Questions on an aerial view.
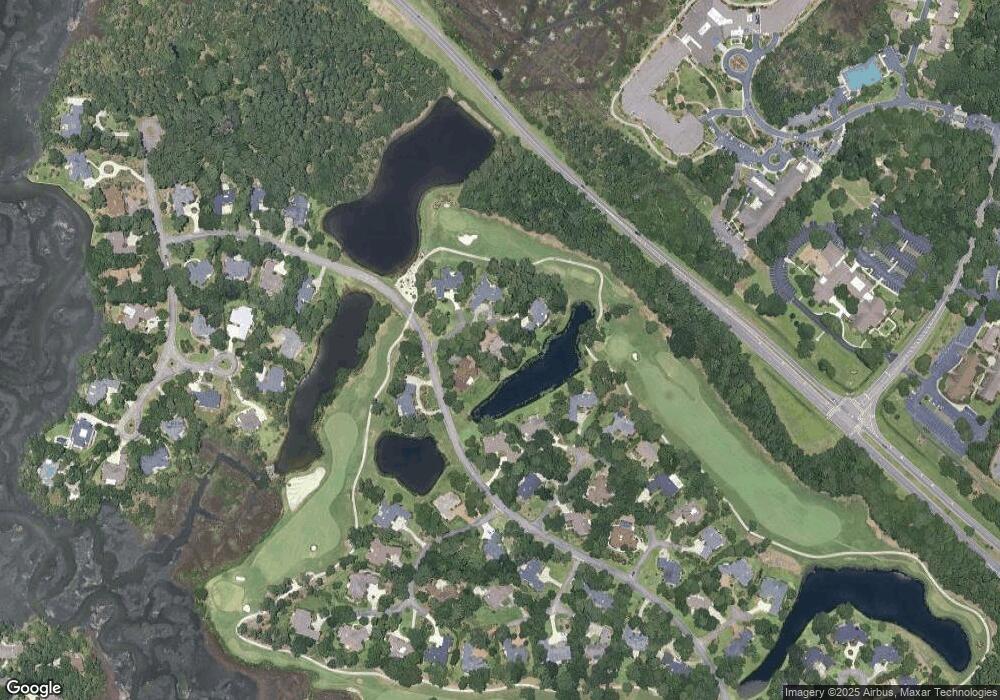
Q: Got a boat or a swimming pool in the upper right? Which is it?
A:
swimming pool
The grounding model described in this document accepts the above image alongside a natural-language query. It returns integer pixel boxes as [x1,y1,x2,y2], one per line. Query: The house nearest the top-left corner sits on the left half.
[58,100,89,137]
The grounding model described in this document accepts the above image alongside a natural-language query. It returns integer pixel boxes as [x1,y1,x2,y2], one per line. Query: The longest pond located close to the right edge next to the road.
[741,567,972,685]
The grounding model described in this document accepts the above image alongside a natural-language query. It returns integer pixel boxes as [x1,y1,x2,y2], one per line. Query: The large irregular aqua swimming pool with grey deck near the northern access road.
[840,55,886,95]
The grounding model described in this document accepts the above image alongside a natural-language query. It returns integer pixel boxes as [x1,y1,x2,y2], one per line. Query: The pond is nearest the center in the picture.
[473,303,594,419]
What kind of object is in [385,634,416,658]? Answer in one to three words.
house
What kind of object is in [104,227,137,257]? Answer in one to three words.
house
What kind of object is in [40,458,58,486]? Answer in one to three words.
swimming pool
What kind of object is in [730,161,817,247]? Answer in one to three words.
building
